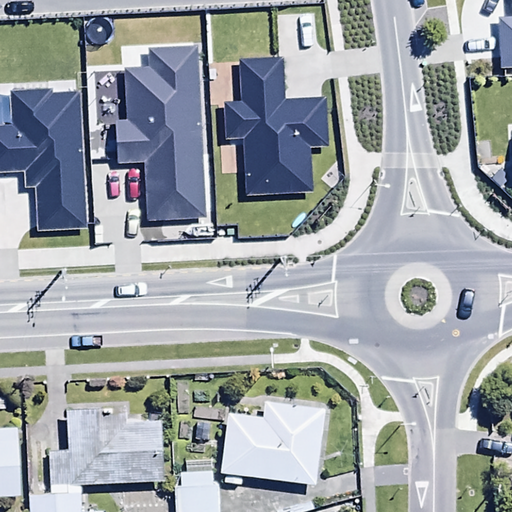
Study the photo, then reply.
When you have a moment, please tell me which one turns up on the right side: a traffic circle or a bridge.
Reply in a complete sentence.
What appears on the right side is a traffic circle.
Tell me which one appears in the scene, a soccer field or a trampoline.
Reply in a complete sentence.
I can see a trampoline in this picture.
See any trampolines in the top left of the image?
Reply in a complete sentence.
Yes, looking in the top left of the image, one can make out a trampoline.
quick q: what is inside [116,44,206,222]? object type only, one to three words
house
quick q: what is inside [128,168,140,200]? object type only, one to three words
vehicle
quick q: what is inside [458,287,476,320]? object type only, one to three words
car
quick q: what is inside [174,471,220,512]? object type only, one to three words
house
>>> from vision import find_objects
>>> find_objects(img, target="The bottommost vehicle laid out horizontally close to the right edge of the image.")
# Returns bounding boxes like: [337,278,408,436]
[464,37,496,52]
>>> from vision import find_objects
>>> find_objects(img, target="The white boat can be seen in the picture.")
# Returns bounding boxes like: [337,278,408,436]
[179,224,218,236]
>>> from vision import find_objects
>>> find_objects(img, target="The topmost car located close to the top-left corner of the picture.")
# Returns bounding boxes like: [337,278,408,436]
[4,0,34,15]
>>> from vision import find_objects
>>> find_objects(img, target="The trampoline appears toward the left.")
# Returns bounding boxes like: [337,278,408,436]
[86,17,113,44]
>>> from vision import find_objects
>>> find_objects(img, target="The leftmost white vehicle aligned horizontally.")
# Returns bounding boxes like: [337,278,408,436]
[114,282,148,296]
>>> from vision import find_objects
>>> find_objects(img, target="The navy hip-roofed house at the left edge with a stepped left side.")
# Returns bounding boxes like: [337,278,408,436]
[0,88,87,232]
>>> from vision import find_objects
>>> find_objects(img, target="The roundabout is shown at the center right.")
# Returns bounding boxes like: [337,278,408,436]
[385,262,452,329]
